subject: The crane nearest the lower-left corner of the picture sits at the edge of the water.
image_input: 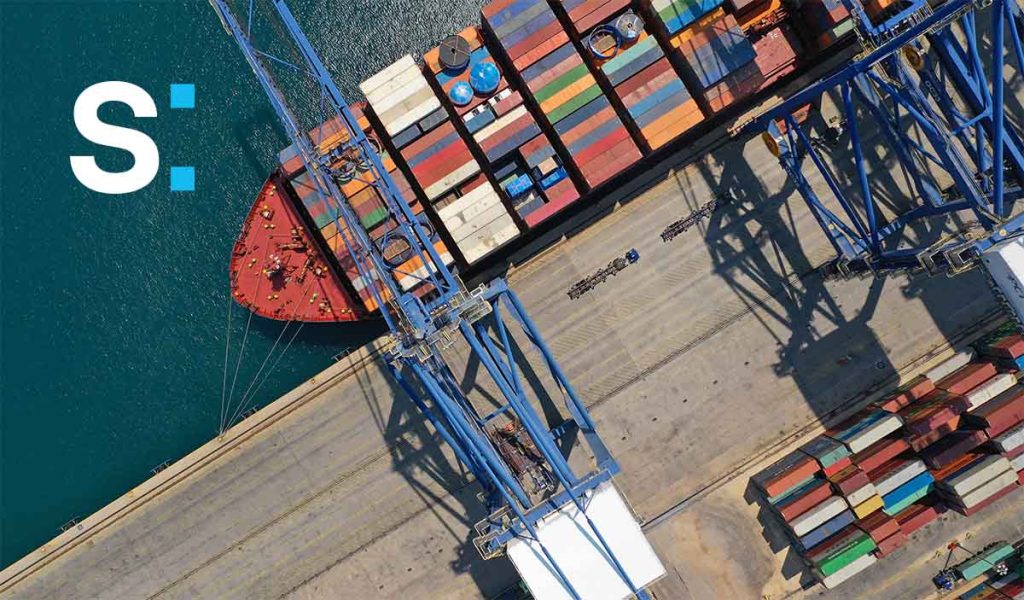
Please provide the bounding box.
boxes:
[203,0,668,600]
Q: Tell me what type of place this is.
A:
port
